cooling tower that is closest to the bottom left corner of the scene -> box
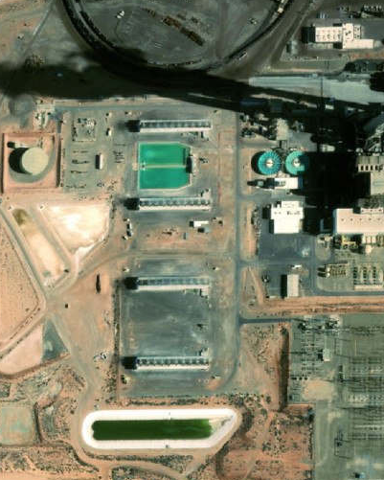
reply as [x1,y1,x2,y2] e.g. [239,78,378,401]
[134,357,210,370]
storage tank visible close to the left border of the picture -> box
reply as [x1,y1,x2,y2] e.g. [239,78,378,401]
[19,147,48,176]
